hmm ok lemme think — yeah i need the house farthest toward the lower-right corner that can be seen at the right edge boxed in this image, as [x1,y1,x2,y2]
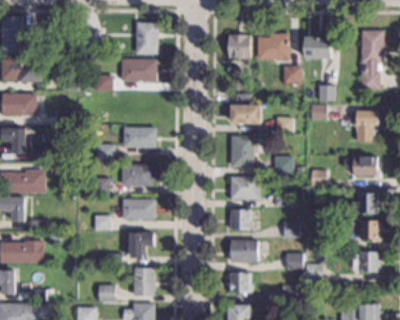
[359,304,382,320]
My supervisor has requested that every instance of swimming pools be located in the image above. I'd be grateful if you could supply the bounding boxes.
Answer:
[31,272,45,286]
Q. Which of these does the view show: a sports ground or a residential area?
residential area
